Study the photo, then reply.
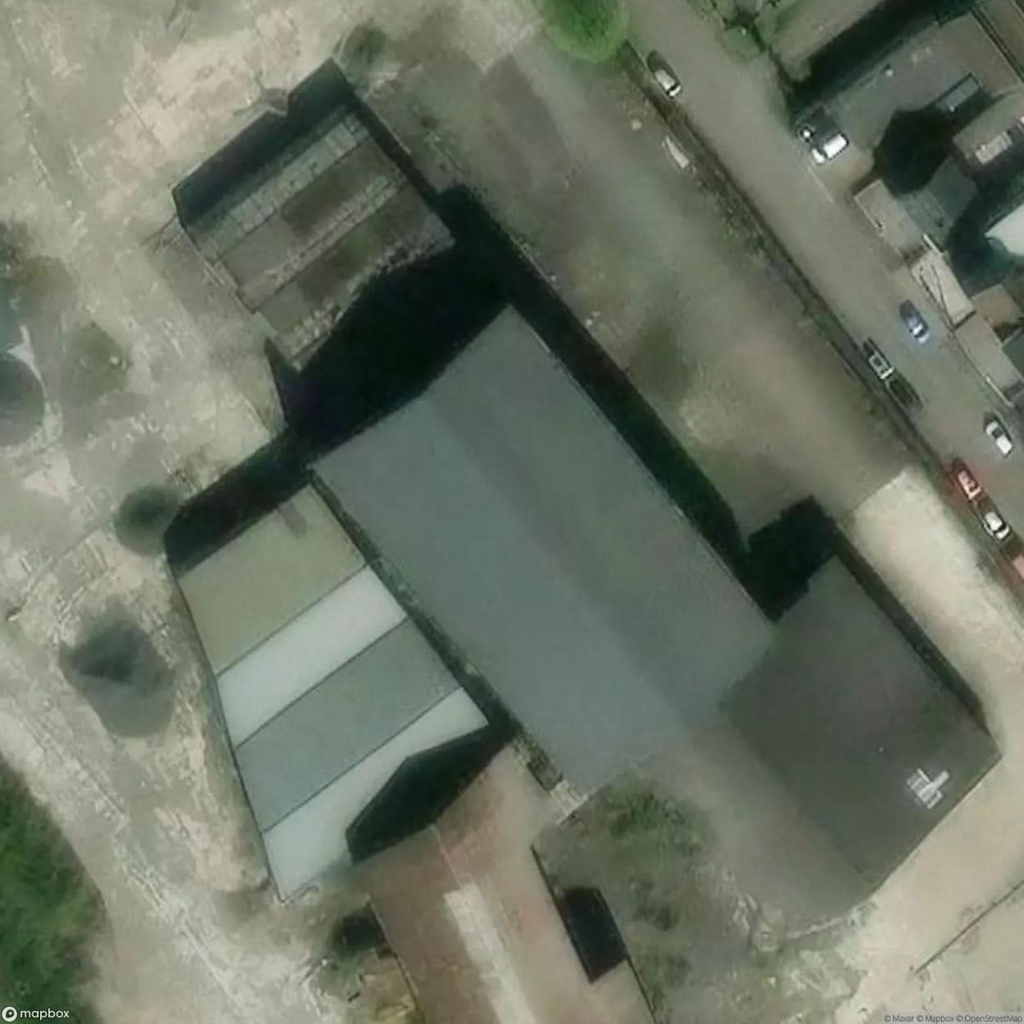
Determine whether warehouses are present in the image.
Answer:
Yes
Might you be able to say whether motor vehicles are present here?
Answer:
Yes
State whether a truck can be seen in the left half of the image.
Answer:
No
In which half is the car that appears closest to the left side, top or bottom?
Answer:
top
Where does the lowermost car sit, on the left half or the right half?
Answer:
right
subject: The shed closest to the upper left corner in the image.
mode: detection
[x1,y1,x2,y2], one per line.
[185,102,456,367]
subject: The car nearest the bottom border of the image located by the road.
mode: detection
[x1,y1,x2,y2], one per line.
[1002,546,1024,586]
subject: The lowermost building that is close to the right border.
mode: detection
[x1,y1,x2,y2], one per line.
[721,557,1000,891]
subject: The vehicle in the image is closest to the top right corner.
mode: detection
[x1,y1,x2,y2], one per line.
[807,130,851,166]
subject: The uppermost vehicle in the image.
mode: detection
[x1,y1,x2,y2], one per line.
[647,57,683,100]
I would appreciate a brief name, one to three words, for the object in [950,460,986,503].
car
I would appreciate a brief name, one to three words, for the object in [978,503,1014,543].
car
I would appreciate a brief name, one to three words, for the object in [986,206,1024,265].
building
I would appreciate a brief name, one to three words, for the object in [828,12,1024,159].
house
